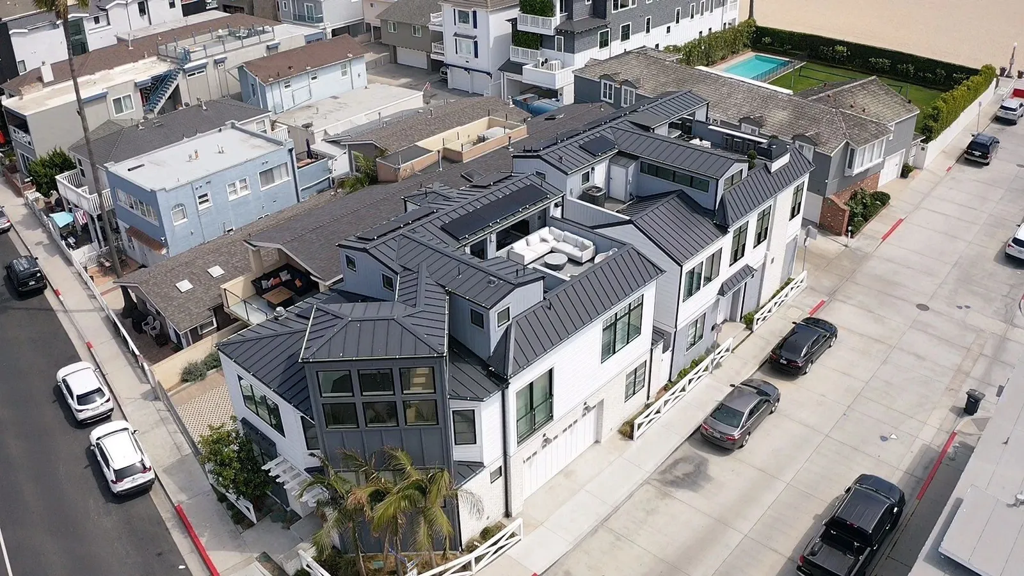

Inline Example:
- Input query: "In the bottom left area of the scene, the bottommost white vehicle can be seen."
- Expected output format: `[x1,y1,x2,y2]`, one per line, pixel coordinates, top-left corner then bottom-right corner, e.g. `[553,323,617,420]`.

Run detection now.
[82,417,157,497]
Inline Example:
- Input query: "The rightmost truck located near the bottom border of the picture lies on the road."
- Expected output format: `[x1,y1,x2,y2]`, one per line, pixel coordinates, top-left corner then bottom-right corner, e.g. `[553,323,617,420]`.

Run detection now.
[787,469,911,576]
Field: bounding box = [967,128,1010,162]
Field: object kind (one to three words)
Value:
car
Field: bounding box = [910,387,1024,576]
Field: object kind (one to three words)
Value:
building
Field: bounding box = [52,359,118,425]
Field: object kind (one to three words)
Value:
car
